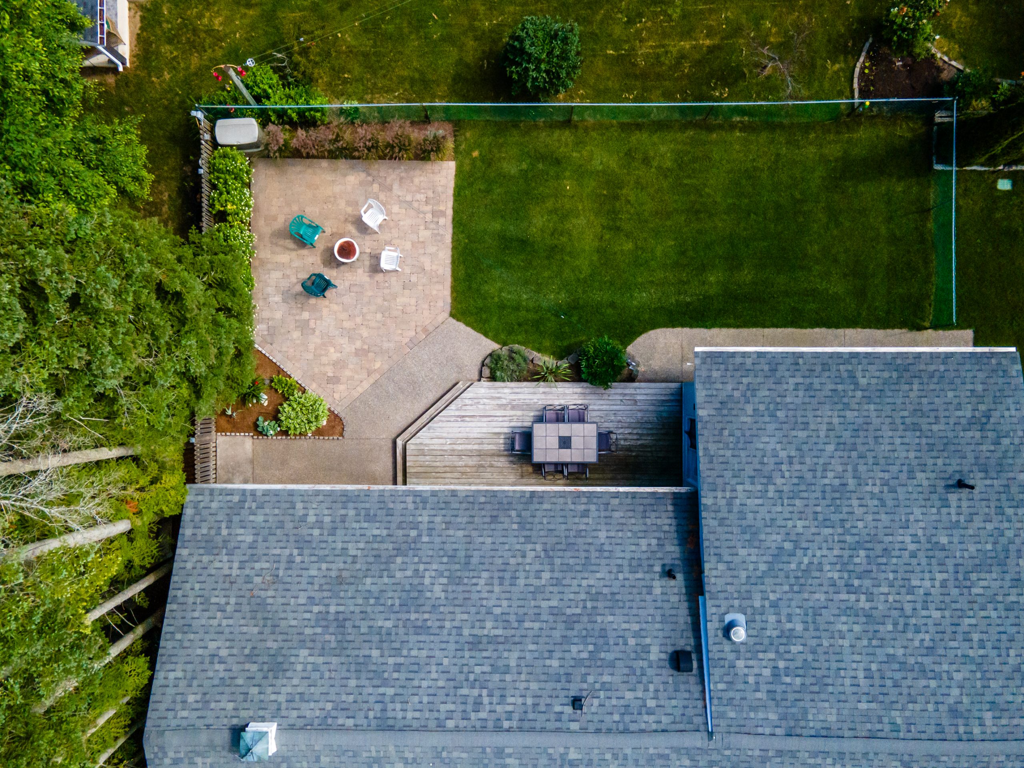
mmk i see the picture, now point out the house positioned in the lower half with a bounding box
[144,346,1024,768]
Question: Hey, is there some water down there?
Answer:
No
